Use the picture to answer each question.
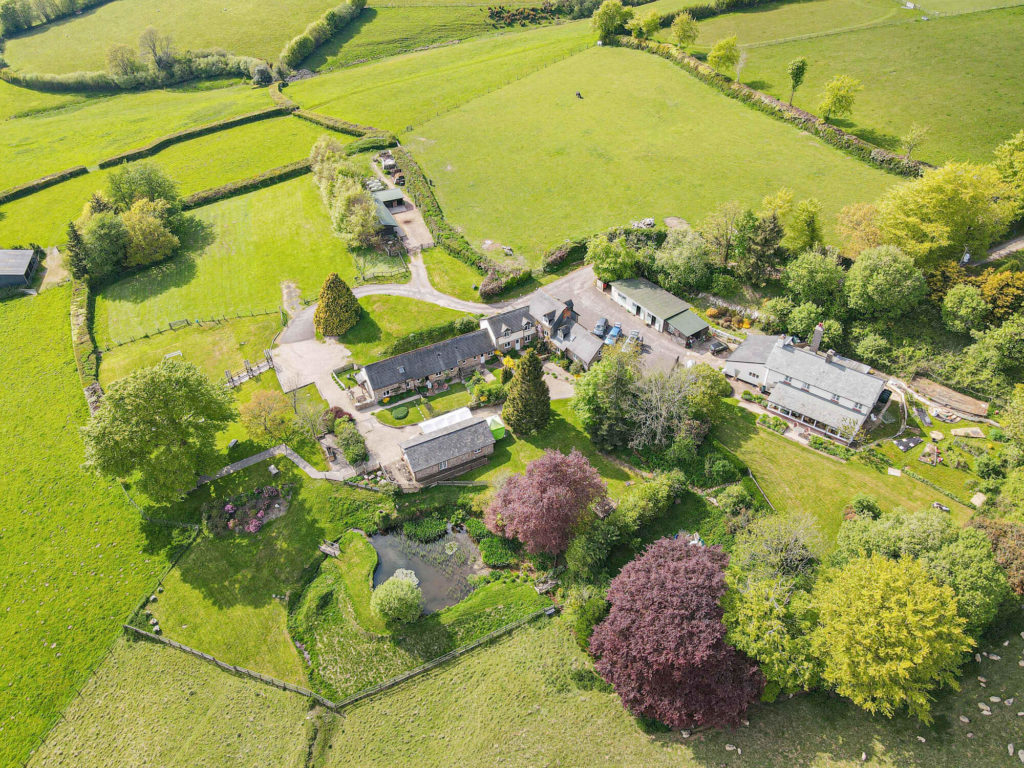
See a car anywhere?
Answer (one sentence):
Yes, there's a car down there.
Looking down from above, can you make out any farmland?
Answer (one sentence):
Yes, farmland shows up in the scene.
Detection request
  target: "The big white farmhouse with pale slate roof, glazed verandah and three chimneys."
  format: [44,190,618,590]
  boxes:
[726,329,885,444]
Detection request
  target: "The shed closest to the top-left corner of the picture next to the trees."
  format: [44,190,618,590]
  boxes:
[0,251,53,291]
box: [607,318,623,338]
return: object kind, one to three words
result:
car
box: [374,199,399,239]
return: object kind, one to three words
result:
shed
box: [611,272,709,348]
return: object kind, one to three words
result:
shed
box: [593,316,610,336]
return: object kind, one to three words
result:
car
